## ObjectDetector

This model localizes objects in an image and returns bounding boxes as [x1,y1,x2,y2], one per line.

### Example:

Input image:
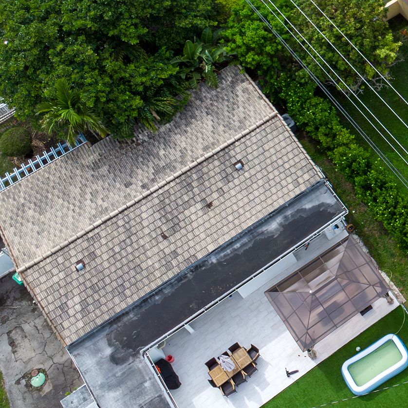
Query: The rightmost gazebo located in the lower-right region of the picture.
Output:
[266,236,397,362]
